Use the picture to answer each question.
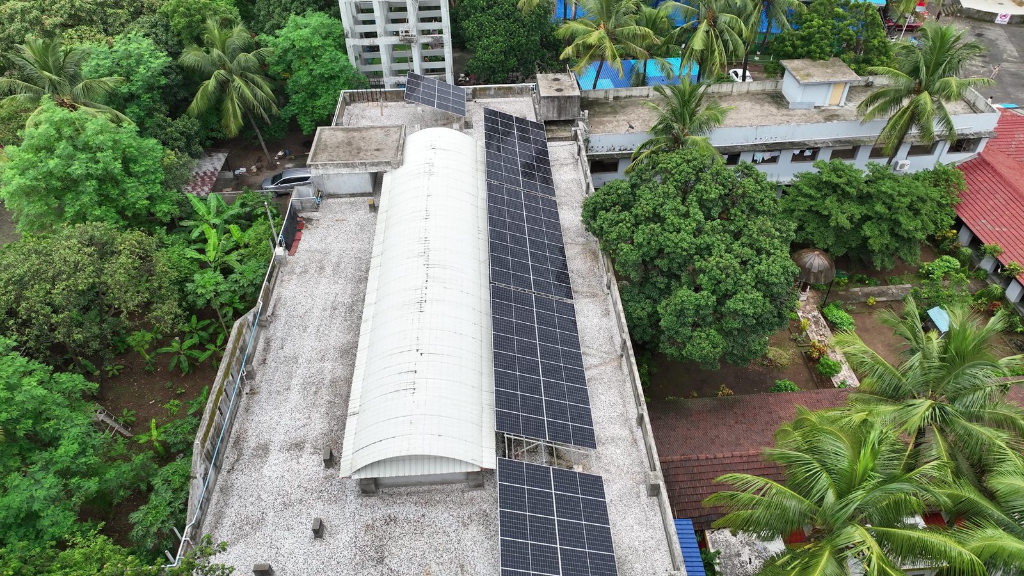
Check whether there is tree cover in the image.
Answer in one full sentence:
Yes, the picture does contain tree cover.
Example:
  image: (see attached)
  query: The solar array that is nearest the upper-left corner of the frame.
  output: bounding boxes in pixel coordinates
[404,71,466,129]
